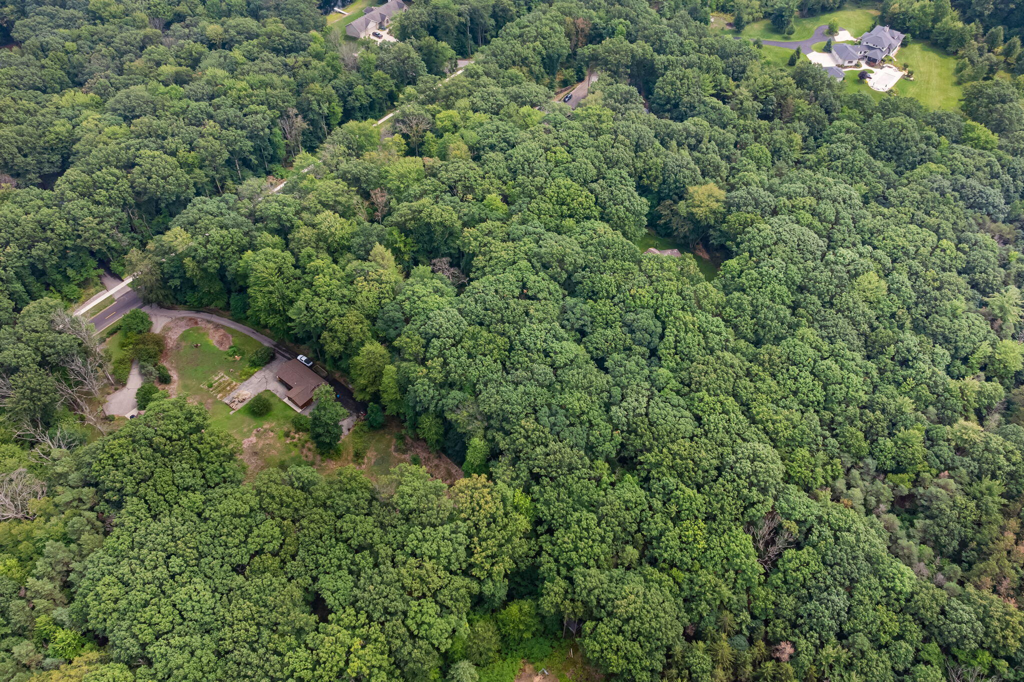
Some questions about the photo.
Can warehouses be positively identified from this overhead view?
No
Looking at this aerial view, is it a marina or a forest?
forest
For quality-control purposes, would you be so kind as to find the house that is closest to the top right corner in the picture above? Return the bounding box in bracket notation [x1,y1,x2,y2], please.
[827,18,911,65]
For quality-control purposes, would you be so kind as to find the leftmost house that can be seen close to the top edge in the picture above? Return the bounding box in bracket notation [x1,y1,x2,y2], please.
[345,0,415,41]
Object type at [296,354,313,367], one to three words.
vehicle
